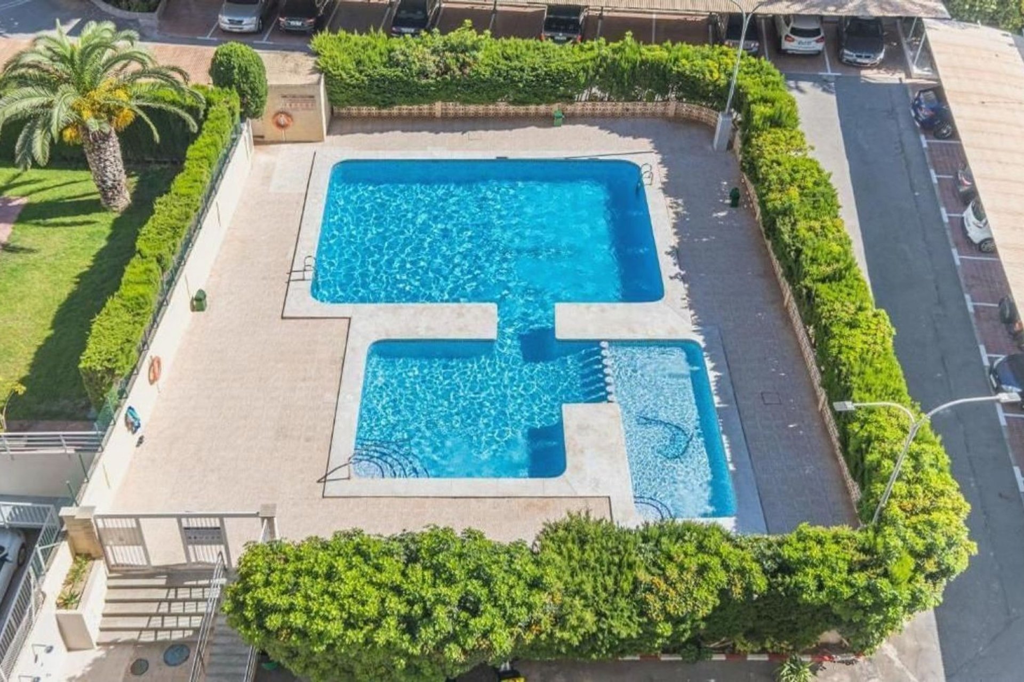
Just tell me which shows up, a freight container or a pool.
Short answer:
pool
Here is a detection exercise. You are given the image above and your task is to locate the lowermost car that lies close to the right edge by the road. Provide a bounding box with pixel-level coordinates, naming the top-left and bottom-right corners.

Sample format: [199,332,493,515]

[992,342,1024,409]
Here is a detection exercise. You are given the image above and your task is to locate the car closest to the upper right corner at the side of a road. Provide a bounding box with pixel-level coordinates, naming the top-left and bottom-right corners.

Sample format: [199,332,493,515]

[920,82,964,138]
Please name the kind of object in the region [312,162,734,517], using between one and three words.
swimming pool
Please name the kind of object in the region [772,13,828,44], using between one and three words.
car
